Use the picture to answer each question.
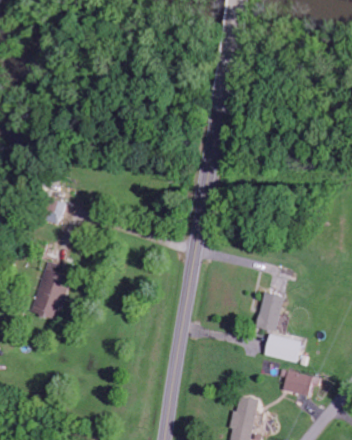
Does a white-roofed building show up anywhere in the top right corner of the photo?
No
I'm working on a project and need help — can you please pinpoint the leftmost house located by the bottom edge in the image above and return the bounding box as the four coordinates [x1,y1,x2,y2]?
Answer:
[230,398,258,440]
